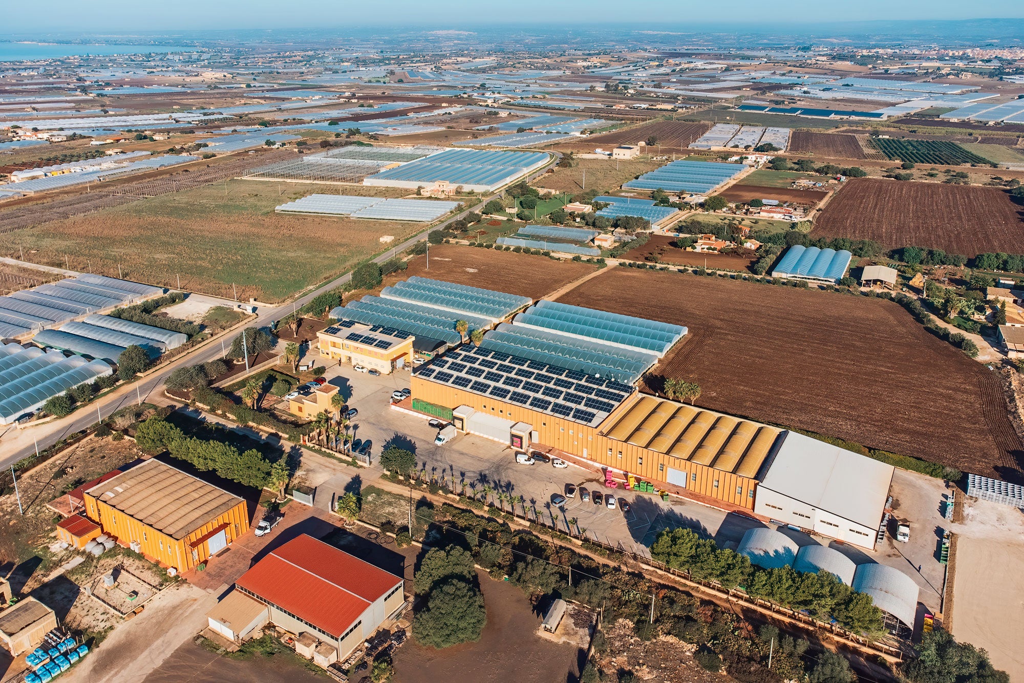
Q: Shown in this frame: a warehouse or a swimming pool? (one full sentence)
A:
Of the two, only a warehouse appears.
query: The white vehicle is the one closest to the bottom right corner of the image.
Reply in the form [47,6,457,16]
[898,518,910,540]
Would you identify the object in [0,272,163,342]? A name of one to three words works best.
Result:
greenhouse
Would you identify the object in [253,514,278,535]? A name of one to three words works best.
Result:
truck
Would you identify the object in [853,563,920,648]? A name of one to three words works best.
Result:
shed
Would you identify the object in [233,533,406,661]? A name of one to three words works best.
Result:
warehouse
